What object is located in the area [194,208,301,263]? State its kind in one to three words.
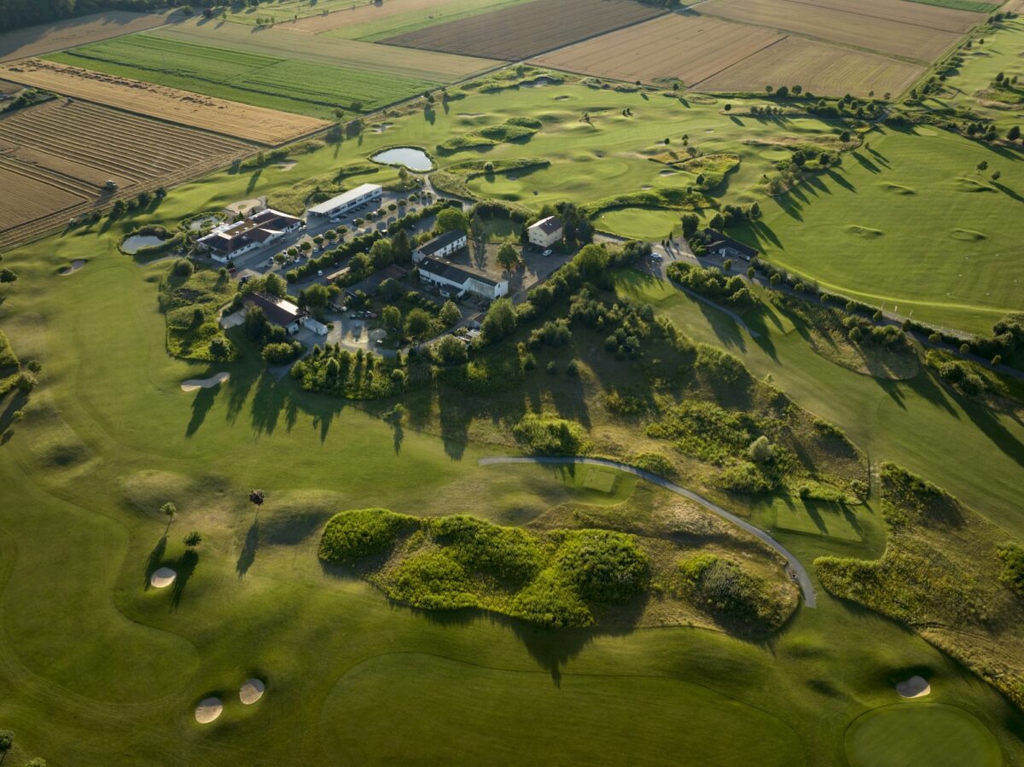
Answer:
building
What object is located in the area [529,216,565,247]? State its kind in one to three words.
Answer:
house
